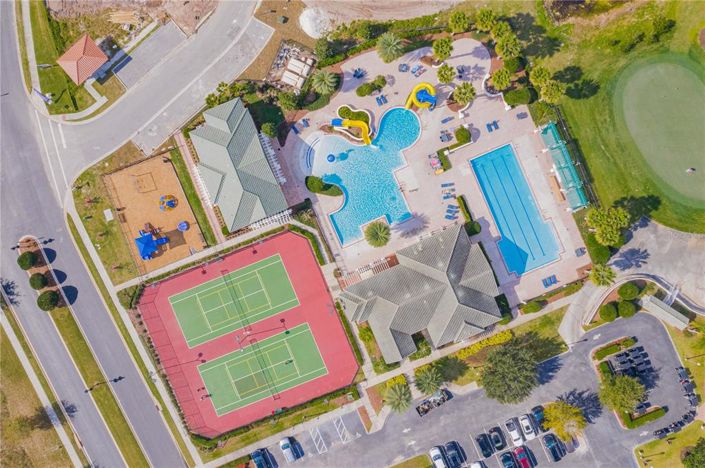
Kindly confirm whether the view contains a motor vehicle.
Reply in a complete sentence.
Yes, there's a motor vehicle down there.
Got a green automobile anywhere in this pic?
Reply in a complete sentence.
No, I find no green automobile anywhere in the image.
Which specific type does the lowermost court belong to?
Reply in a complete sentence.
Looking closely, the lowermost court is a tennis court.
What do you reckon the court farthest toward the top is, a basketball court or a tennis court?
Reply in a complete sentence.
The court farthest toward the top in the image is a tennis court.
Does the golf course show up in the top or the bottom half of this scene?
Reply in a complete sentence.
Seen from above, the golf course lies in the top half of the view.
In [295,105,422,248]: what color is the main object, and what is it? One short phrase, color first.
blue swimming pool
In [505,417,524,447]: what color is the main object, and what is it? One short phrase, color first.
white vehicle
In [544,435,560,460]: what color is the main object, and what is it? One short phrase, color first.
blue car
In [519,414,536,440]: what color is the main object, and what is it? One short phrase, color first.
white car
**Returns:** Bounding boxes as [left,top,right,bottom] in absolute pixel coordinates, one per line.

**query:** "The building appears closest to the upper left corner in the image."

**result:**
[56,32,114,87]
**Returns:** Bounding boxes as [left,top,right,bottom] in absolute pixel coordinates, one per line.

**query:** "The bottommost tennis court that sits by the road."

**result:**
[167,301,360,437]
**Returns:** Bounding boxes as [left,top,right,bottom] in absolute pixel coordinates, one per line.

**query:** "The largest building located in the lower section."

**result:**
[339,224,502,363]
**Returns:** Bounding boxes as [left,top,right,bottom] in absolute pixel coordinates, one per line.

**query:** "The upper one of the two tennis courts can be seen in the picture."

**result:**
[139,231,335,368]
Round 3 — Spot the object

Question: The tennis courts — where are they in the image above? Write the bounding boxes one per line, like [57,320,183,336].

[167,301,360,437]
[139,231,335,368]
